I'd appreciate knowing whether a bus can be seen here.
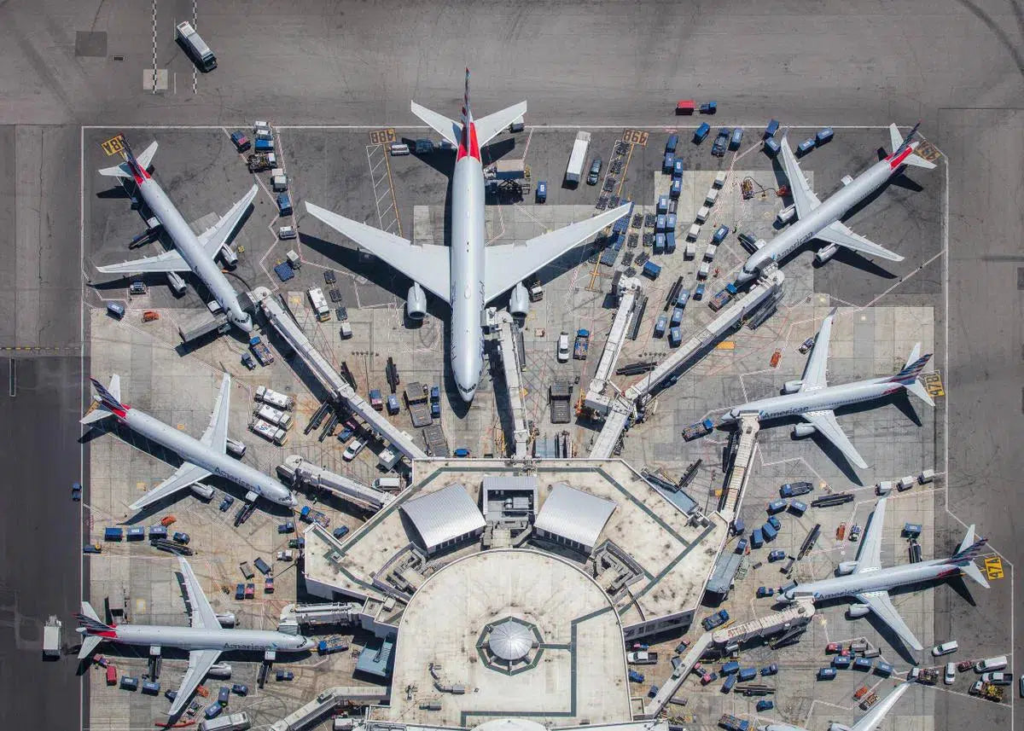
Yes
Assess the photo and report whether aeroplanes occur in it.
Yes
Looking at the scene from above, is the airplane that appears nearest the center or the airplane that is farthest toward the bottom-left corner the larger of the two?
the airplane that appears nearest the center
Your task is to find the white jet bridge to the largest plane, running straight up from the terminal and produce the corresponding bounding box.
[479,305,531,462]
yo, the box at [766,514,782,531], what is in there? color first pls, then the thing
blue work vehicle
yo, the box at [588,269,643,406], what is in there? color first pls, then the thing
white jet bridge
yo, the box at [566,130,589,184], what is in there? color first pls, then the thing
white truck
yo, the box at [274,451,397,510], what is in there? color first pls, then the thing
white jet bridge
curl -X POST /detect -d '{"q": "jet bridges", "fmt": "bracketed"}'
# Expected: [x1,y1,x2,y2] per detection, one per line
[259,686,391,731]
[237,283,422,470]
[479,305,531,462]
[588,269,643,406]
[579,258,786,458]
[644,591,819,720]
[718,406,761,538]
[276,601,360,637]
[274,451,397,510]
